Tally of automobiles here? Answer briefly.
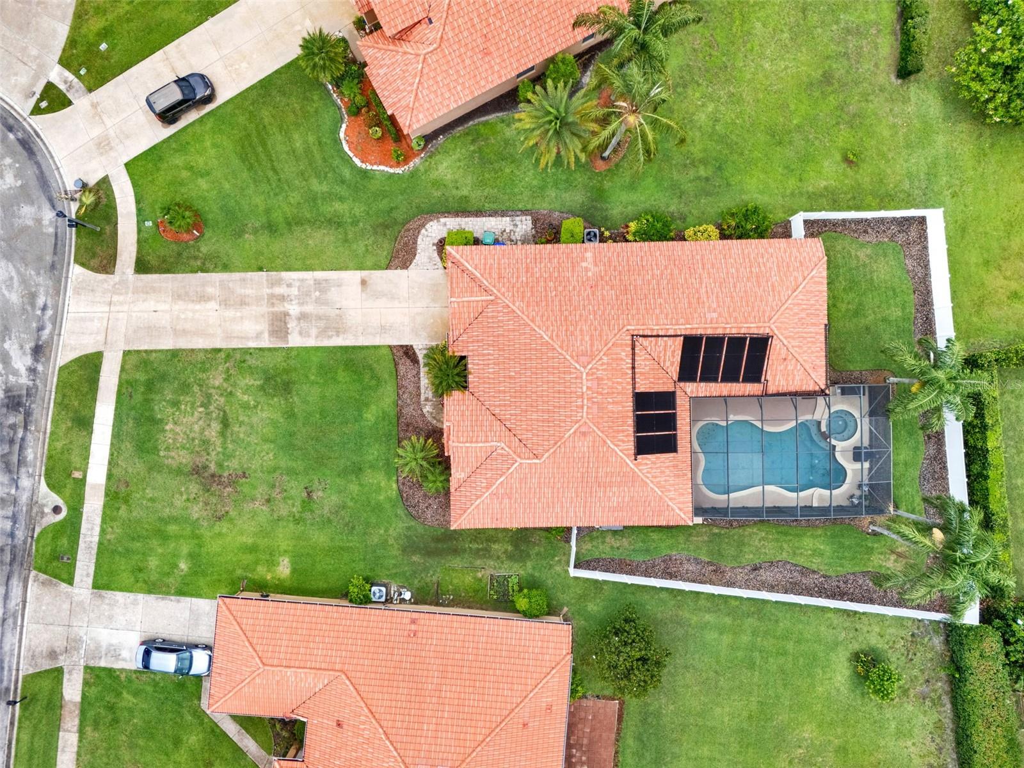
two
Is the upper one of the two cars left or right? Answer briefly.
left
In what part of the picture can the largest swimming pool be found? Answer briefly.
right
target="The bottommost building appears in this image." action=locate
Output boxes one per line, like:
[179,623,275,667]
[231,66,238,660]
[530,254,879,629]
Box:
[206,580,574,768]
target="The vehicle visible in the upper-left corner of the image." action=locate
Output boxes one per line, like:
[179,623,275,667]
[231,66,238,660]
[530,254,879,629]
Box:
[143,72,216,125]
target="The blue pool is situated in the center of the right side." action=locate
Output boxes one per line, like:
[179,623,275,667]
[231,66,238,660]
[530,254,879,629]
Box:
[693,404,866,500]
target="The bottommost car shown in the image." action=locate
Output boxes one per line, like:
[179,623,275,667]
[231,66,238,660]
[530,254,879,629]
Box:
[136,636,212,678]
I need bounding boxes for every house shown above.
[355,0,681,140]
[442,237,830,531]
[206,580,574,768]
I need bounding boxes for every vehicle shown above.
[136,636,212,678]
[143,72,216,125]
